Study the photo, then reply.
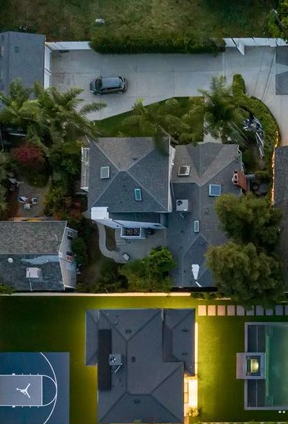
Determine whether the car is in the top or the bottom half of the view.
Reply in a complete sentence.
It is in the top half that the car appears.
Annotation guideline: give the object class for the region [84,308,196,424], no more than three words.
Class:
house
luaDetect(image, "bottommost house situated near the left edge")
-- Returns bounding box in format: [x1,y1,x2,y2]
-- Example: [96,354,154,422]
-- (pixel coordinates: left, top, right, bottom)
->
[0,217,79,291]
